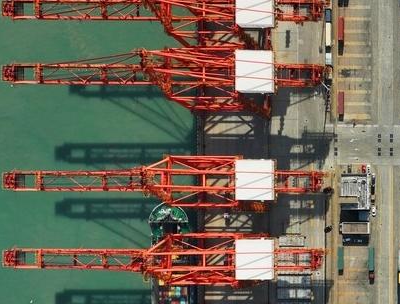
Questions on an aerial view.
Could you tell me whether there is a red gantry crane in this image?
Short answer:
Yes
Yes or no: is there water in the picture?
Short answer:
Yes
